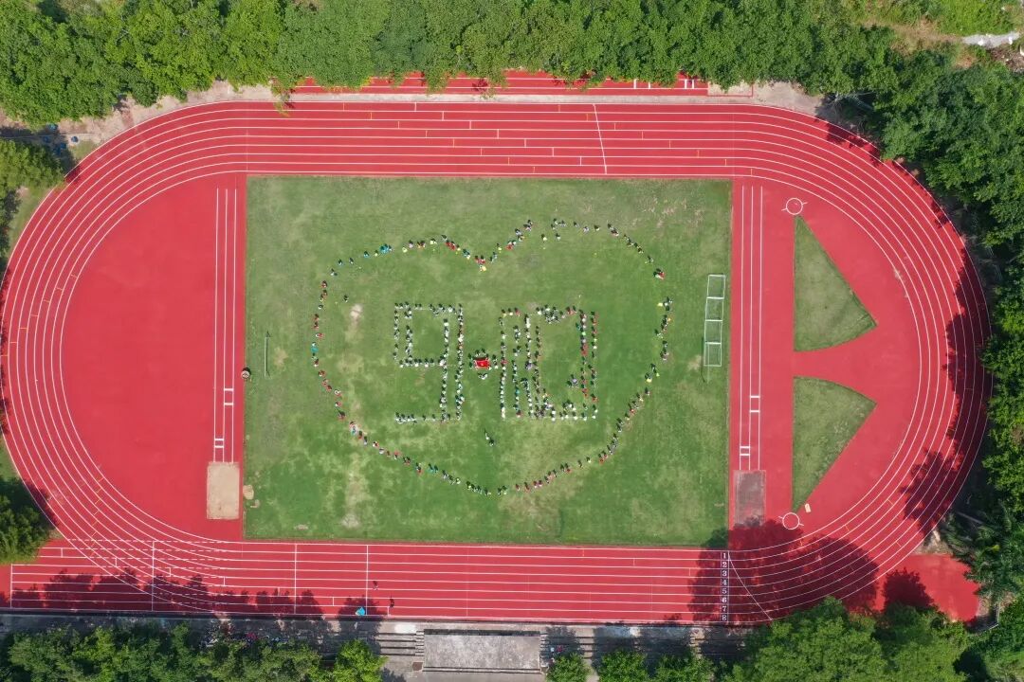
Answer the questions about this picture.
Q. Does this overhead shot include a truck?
No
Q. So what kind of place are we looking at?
sports ground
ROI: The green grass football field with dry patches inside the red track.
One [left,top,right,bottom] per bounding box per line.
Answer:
[243,175,732,548]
